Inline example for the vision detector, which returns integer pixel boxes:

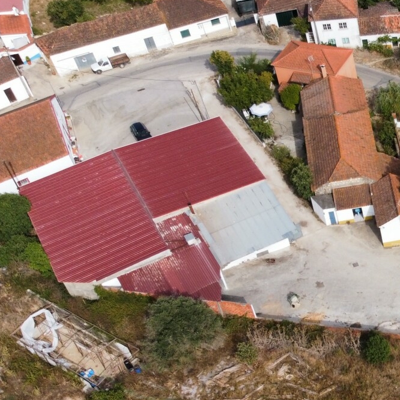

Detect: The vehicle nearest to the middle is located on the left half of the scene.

[131,116,152,139]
